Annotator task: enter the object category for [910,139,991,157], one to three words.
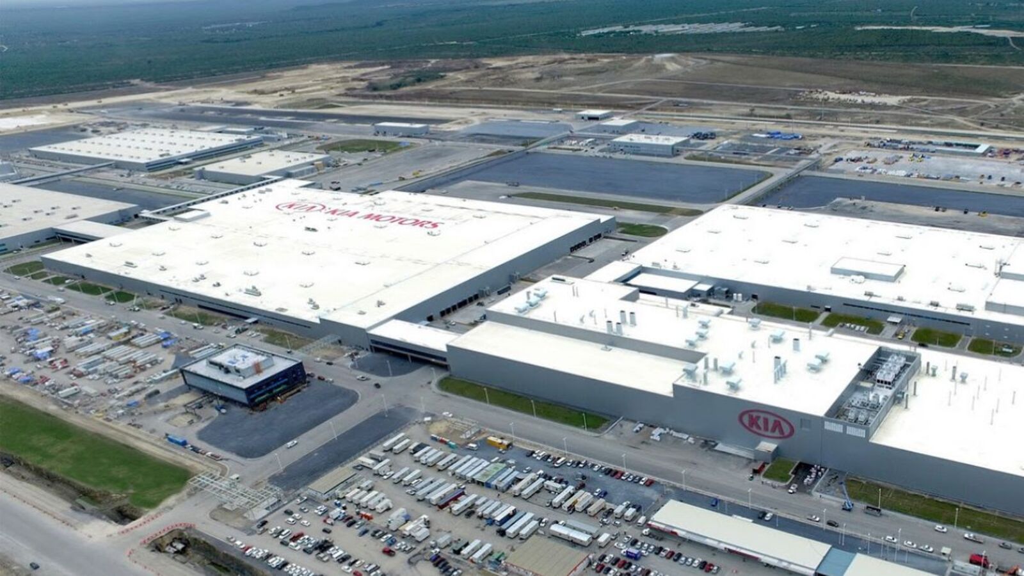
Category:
shed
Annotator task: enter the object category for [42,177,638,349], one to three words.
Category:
building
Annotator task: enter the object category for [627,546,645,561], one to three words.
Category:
vehicle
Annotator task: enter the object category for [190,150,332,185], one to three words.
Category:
building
